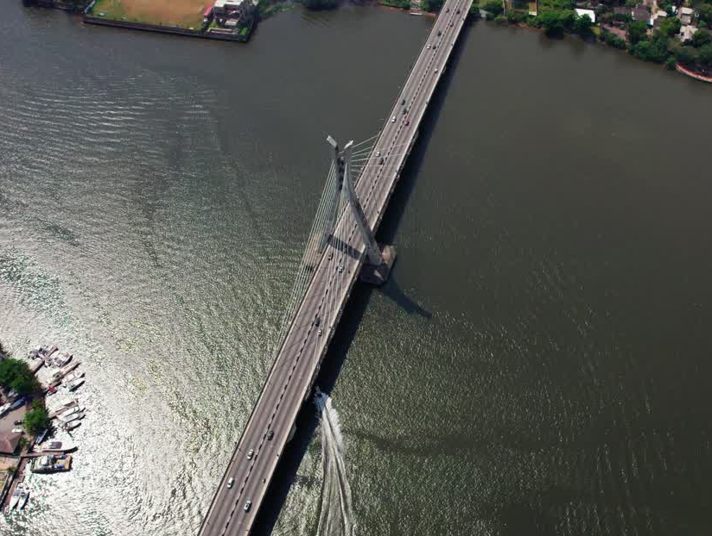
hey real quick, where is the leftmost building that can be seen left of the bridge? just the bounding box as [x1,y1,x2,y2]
[0,431,24,454]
